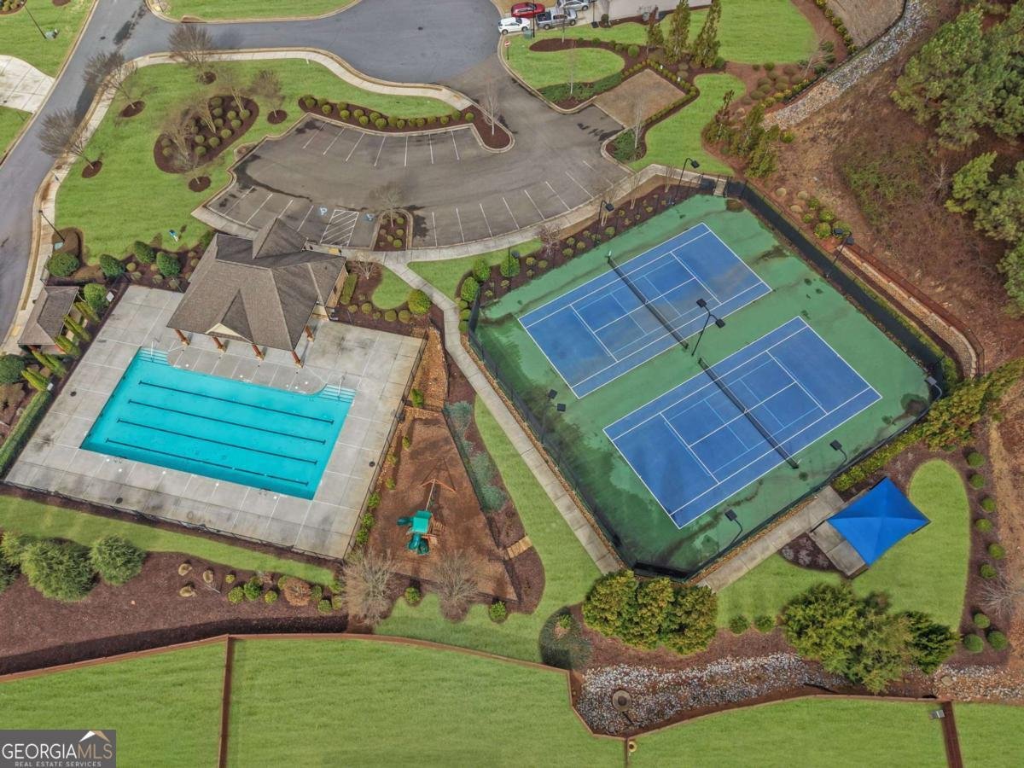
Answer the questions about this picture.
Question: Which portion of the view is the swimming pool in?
left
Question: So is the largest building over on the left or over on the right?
left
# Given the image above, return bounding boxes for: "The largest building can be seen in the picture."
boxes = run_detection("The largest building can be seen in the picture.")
[166,216,347,368]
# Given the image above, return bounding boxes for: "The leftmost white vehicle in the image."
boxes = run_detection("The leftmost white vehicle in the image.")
[498,13,530,31]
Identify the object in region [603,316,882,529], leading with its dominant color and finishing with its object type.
blue tennis court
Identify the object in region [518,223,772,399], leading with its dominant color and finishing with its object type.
blue tennis court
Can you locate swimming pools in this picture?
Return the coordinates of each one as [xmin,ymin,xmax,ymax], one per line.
[77,344,358,502]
